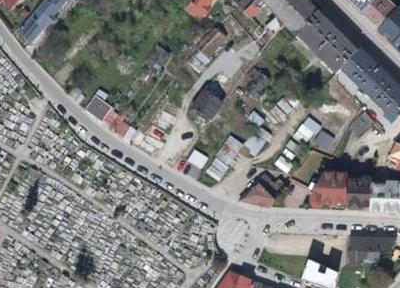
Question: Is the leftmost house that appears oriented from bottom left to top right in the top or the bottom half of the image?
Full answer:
The leftmost house that appears oriented from bottom left to top right is in the top half of the image.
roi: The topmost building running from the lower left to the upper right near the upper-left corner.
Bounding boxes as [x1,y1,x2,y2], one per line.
[18,0,69,44]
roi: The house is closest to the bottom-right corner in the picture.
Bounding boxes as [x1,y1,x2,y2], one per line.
[347,234,397,265]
